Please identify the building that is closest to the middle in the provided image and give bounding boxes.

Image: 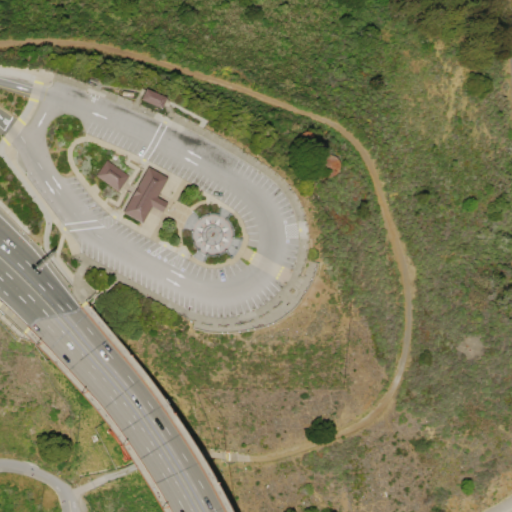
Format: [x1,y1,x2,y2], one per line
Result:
[124,166,168,220]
